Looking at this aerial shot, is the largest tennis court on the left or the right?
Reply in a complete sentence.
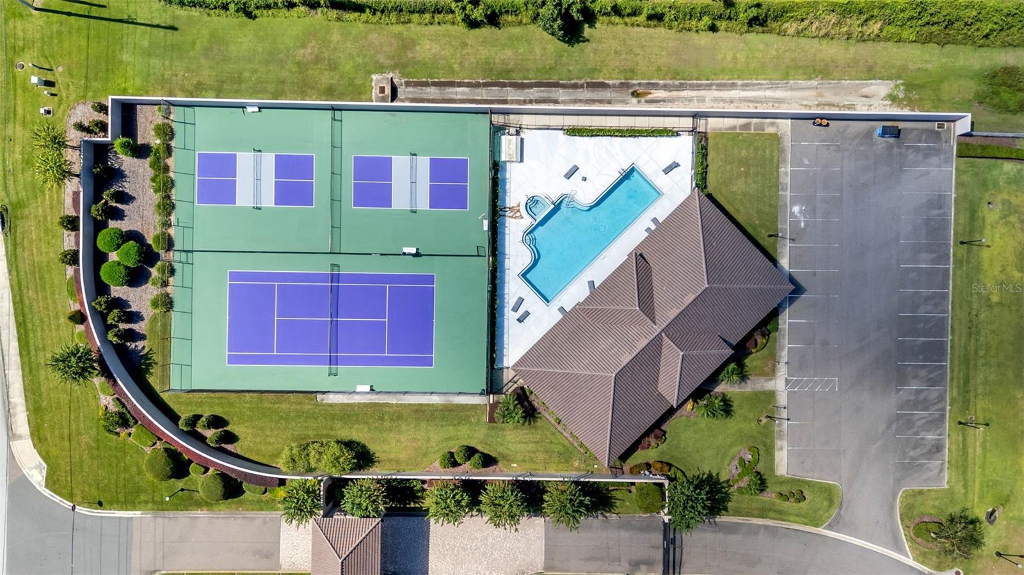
The largest tennis court is on the left side of the image.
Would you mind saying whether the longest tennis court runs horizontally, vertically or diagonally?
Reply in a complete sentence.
From this overhead view, the longest tennis court appears to run horizontally.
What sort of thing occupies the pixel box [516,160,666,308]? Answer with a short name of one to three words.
swimming pool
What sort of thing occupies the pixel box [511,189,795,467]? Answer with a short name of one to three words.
building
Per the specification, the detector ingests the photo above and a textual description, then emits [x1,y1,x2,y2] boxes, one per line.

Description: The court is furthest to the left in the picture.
[196,152,315,207]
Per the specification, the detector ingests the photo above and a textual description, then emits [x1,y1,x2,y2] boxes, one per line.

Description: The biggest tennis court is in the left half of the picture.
[226,271,436,367]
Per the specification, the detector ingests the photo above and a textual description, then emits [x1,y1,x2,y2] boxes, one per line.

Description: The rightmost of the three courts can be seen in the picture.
[352,155,469,210]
